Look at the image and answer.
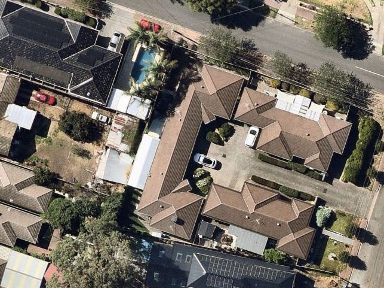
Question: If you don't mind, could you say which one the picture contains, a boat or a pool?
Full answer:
The one in the frame is a pool.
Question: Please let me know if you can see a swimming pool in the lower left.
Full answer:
No, the scene shows no swimming pool in the lower left.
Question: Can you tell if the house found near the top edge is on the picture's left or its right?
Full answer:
The house found near the top edge is on the left side of the image.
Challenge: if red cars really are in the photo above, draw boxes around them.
[138,18,162,34]
[32,91,57,105]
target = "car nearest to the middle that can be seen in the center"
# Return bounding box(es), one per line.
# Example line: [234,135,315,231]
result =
[193,152,218,167]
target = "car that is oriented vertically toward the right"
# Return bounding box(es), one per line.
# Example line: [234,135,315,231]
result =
[245,124,259,150]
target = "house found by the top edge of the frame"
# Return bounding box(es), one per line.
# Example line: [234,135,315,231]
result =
[0,0,151,114]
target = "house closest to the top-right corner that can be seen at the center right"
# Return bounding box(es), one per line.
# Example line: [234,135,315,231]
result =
[234,86,354,174]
